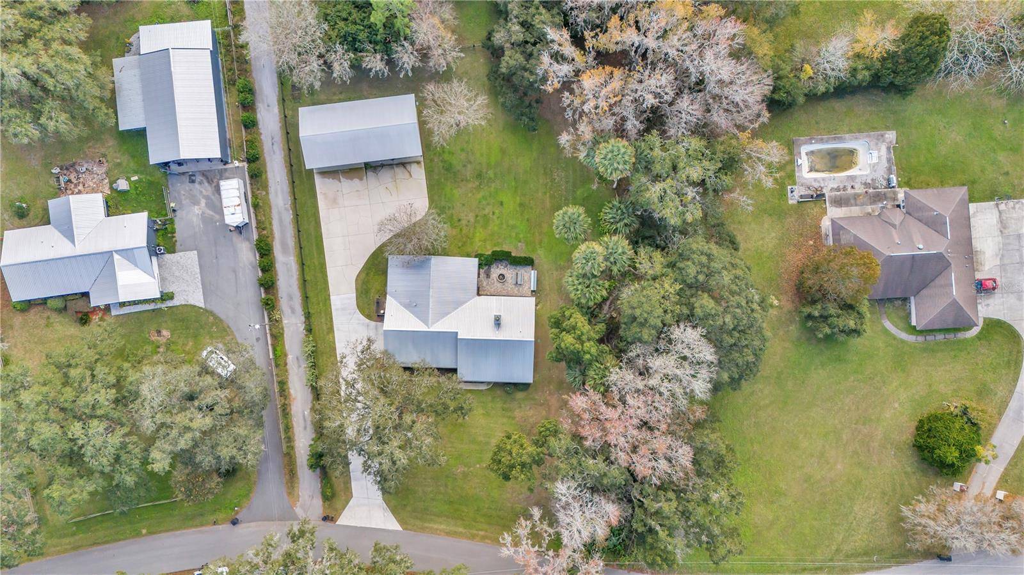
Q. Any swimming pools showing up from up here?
Yes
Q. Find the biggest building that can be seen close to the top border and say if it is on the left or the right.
left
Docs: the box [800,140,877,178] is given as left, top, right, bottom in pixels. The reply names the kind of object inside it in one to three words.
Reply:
swimming pool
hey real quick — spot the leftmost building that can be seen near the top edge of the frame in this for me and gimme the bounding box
[113,20,231,165]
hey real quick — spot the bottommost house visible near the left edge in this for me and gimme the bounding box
[0,193,167,306]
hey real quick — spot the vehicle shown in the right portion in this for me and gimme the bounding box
[974,277,998,294]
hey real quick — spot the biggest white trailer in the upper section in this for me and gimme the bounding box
[219,178,250,238]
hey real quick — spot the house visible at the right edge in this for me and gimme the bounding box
[826,185,978,331]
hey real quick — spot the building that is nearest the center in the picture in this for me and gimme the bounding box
[383,256,535,383]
